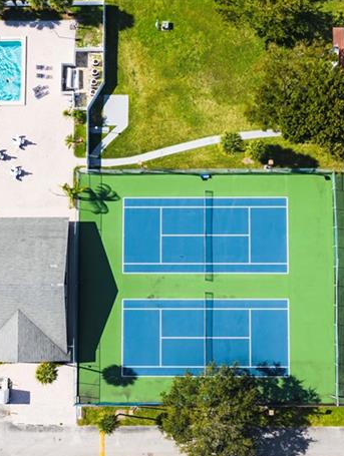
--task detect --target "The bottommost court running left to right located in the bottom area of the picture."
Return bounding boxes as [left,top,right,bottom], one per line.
[77,286,333,404]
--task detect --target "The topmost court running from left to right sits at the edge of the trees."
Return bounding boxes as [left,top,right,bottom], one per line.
[78,171,332,286]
